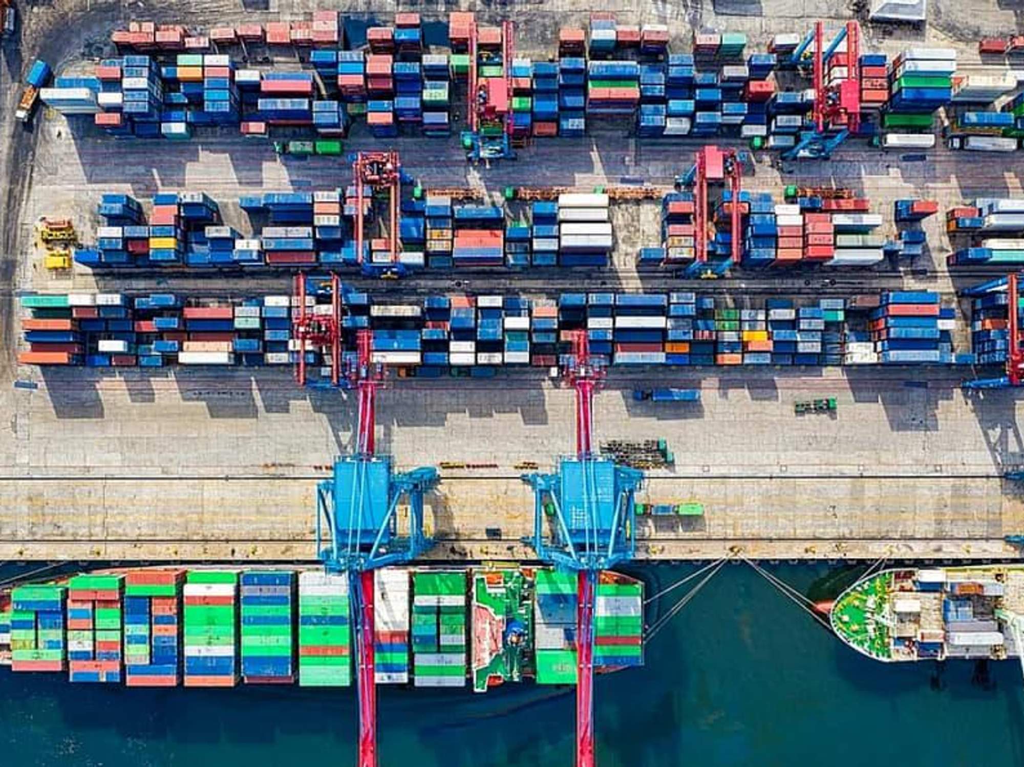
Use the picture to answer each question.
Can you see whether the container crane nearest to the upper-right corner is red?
Yes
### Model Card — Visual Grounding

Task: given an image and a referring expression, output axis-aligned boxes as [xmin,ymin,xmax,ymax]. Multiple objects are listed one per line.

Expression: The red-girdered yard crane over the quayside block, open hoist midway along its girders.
[294,273,362,394]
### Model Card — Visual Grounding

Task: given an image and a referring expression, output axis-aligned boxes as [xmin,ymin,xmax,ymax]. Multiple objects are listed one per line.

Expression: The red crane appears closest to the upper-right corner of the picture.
[780,23,860,166]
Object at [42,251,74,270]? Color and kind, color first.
yellow work vehicle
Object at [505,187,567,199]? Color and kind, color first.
green vehicle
